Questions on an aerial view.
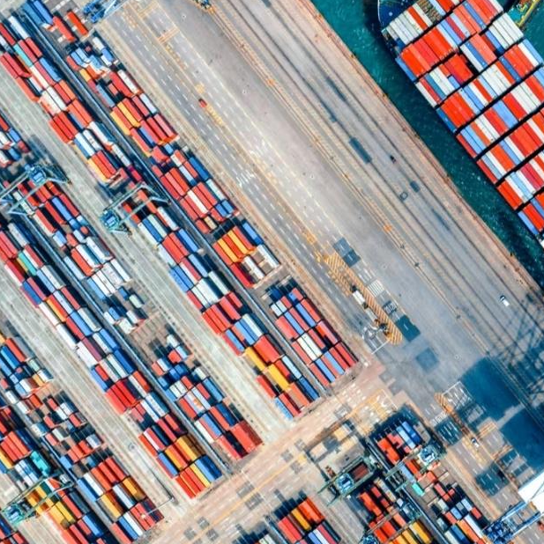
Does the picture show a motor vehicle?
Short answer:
Yes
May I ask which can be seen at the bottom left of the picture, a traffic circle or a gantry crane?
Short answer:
gantry crane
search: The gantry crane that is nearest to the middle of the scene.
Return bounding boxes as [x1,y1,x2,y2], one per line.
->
[90,182,177,244]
